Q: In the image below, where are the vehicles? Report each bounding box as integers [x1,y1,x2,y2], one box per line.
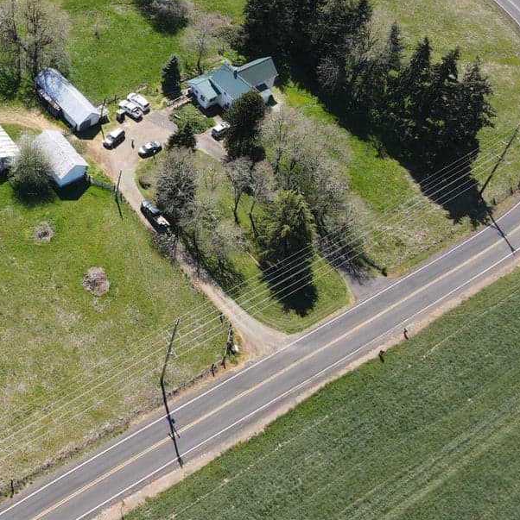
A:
[142,204,170,230]
[208,122,227,137]
[118,100,143,118]
[104,128,127,147]
[138,142,162,156]
[129,93,151,110]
